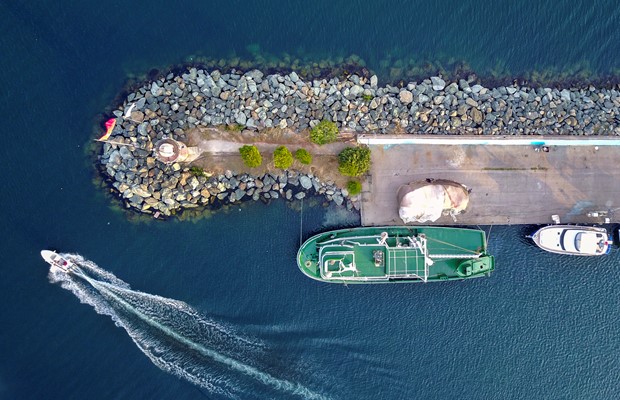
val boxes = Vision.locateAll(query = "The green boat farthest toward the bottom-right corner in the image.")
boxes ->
[457,255,495,276]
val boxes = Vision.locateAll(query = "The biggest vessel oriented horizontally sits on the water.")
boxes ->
[297,224,489,287]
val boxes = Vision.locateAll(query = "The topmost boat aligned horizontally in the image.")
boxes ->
[526,224,613,255]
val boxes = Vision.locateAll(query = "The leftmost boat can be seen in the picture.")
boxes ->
[41,251,76,272]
